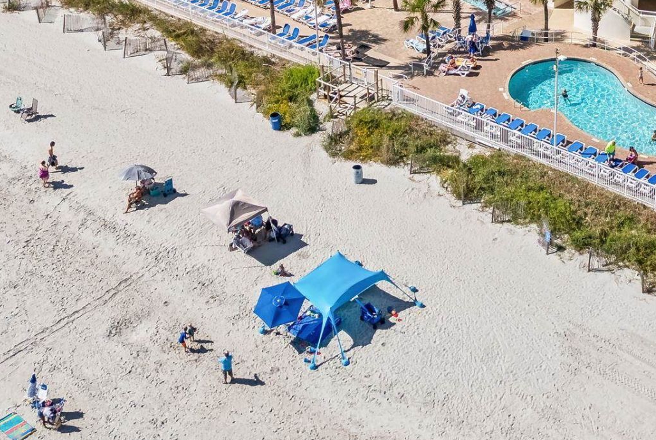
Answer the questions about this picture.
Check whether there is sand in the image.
Yes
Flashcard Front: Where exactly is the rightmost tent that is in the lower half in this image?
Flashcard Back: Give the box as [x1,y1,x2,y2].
[288,252,423,367]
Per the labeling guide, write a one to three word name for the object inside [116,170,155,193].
umbrella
